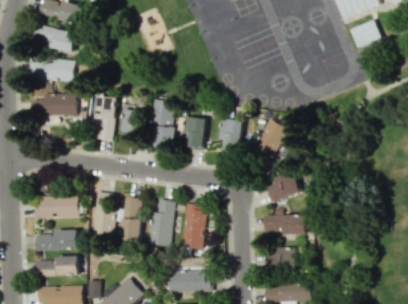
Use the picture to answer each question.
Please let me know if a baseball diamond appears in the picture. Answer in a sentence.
No, there isn't any baseball diamond down there.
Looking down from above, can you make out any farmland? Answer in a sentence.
No, there is no farmland in the image.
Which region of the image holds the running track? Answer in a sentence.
The running track sits in the top right section of the image.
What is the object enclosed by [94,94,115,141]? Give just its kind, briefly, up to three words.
house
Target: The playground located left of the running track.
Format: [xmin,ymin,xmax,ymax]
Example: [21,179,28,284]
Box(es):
[140,8,175,52]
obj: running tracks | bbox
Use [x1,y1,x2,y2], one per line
[260,0,359,99]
